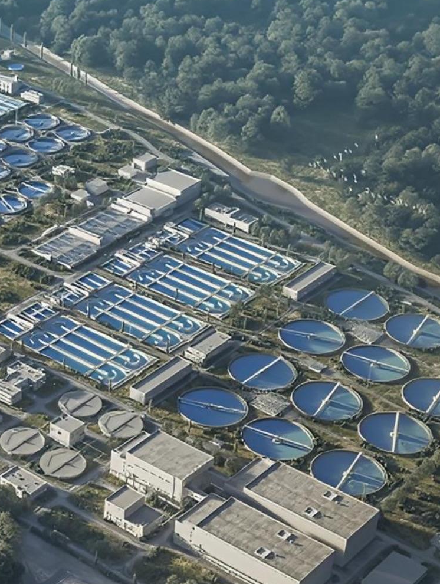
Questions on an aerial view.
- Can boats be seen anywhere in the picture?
No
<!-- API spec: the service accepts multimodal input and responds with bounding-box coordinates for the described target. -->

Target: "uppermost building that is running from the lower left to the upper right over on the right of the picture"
[282,261,336,301]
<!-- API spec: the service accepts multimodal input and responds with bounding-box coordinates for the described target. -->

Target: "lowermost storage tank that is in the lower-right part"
[311,451,387,497]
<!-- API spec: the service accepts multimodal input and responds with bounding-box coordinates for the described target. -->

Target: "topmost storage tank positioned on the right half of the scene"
[324,288,389,322]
